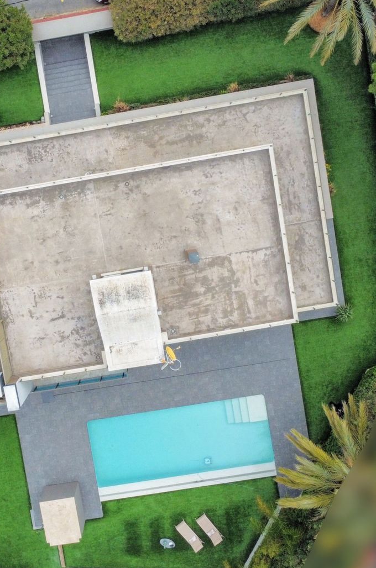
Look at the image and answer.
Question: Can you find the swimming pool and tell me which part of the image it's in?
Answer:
bottom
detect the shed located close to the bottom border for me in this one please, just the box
[40,482,86,546]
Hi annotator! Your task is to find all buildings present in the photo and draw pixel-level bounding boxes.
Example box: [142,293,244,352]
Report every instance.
[0,80,338,411]
[40,482,86,546]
